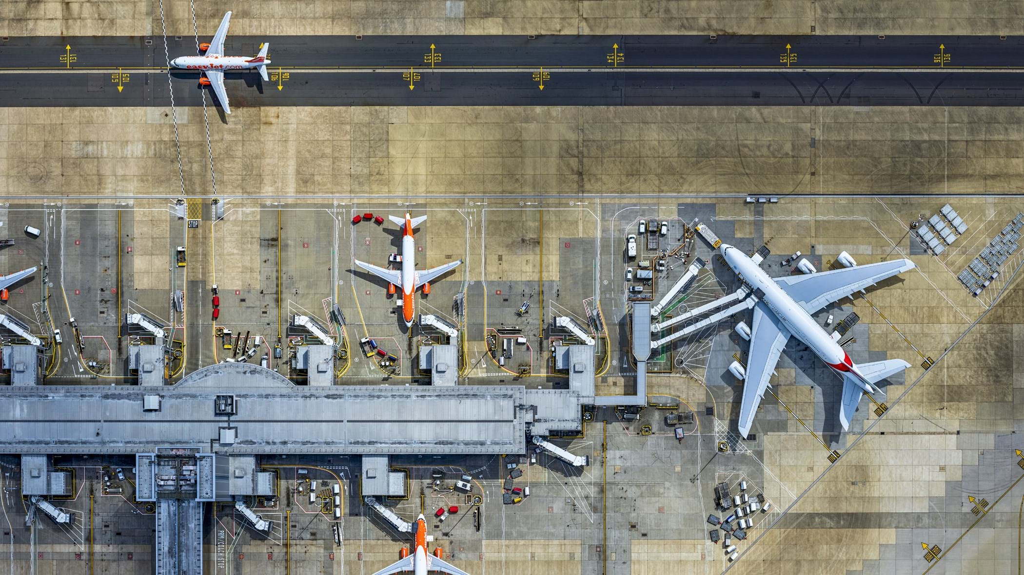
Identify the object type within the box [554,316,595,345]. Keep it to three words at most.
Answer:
jet bridge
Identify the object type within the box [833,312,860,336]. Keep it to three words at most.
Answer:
work vehicle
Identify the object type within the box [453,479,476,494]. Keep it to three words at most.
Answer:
vehicle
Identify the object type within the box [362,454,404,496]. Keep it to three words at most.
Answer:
building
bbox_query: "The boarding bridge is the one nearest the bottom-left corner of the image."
[31,495,78,523]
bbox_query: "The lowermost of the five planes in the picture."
[375,513,469,575]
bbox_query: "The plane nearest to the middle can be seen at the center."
[354,213,461,327]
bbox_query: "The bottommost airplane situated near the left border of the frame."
[0,267,37,301]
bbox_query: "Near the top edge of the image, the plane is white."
[171,9,272,113]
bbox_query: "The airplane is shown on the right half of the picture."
[719,244,921,441]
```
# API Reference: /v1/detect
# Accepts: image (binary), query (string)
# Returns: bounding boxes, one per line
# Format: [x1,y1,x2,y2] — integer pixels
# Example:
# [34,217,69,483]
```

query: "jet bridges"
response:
[651,258,705,316]
[365,496,416,533]
[651,282,752,333]
[420,314,458,337]
[0,311,48,346]
[126,313,169,337]
[554,316,595,345]
[293,315,335,345]
[31,495,78,523]
[532,436,588,466]
[651,290,765,349]
[235,499,274,532]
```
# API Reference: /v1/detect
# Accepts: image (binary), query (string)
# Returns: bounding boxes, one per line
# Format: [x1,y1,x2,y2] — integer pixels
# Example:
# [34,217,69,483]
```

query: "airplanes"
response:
[171,9,272,113]
[0,267,37,301]
[375,513,469,575]
[354,213,461,327]
[719,244,921,441]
